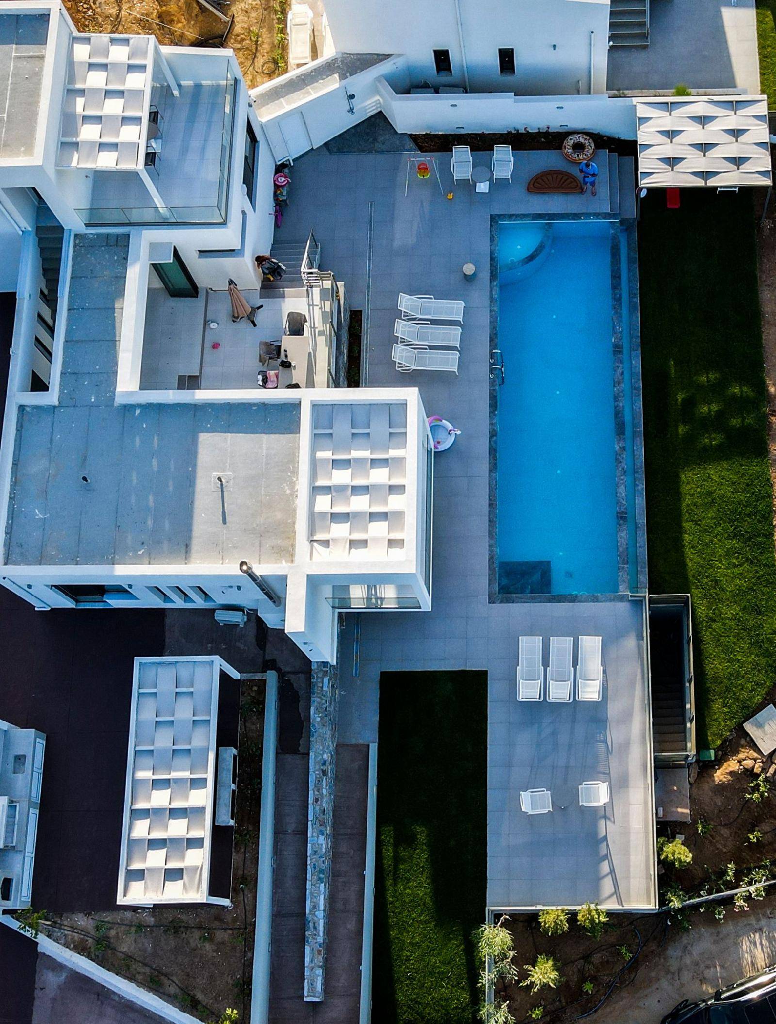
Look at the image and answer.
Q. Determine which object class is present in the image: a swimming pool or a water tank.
swimming pool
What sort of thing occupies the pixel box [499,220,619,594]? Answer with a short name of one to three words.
swimming pool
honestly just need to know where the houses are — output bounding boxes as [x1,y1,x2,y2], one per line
[0,0,432,670]
[319,0,611,95]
